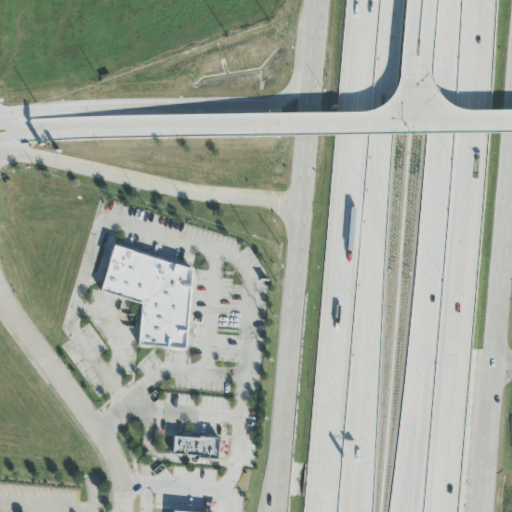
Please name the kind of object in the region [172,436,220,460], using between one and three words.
building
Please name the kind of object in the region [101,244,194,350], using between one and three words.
building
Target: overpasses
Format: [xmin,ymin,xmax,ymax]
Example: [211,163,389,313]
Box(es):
[24,0,512,141]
